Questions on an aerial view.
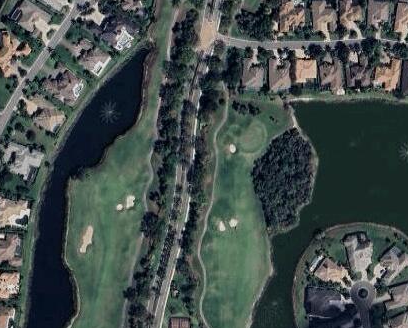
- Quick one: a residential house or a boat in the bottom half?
residential house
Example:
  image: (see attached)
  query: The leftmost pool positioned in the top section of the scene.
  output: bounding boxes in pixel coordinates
[66,78,90,107]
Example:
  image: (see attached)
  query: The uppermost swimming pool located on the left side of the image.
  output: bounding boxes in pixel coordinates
[111,22,134,55]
